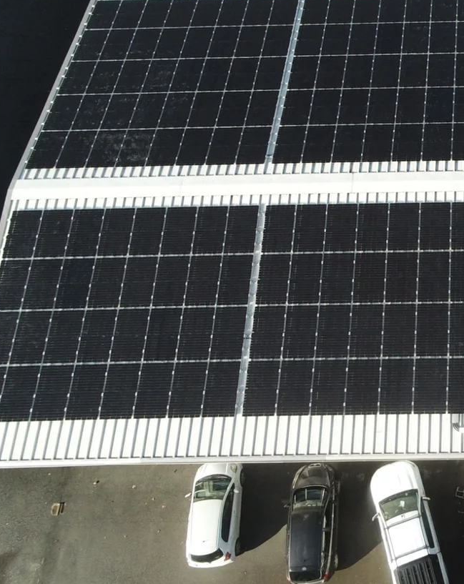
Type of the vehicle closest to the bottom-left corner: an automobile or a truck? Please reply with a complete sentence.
The vehicle closest to the bottom-left corner in the image is an automobile.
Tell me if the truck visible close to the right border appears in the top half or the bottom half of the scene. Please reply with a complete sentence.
It is in the bottom half that the truck visible close to the right border appears.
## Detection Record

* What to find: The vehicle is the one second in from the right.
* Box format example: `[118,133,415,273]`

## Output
[284,461,342,584]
